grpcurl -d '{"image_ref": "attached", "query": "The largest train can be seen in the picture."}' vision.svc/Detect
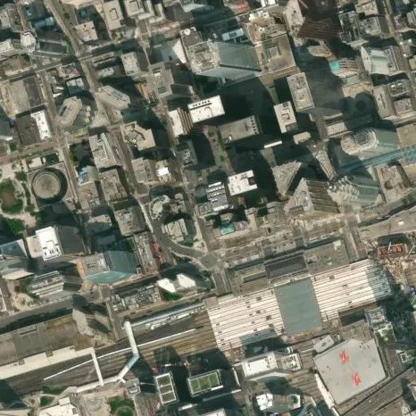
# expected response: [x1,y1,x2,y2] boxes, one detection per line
[23,364,85,383]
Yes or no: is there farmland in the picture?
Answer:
No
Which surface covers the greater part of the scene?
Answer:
buildings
